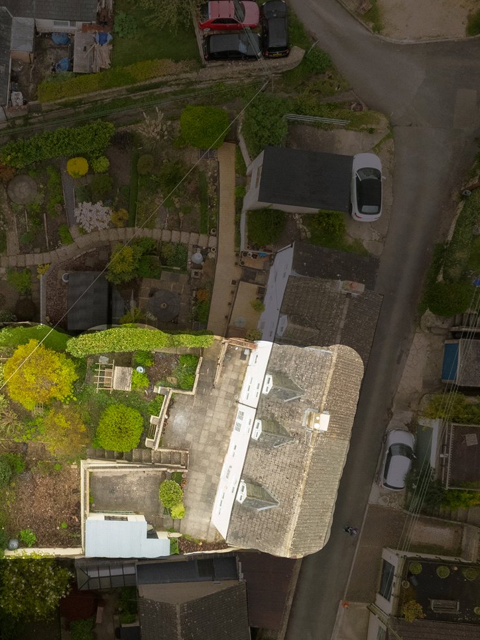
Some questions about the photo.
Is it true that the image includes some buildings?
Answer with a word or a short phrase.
Yes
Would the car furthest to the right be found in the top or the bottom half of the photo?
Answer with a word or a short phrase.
bottom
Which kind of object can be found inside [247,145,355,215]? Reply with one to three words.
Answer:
building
